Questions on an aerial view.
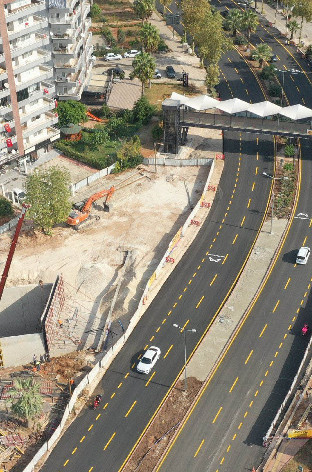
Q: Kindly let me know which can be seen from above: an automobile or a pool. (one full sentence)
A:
This aerial view contains an automobile.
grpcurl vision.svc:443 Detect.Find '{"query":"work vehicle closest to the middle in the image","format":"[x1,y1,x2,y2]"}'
[70,184,111,225]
